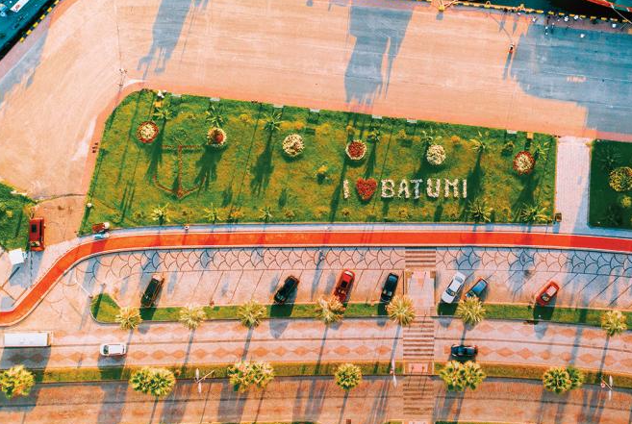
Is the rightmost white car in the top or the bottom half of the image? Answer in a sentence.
It is in the bottom half that the rightmost white car appears.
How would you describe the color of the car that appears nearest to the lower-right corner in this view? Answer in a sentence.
The car that appears nearest to the lower-right corner looks red in the image.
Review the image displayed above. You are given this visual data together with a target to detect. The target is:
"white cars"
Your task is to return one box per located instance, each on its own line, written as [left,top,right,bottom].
[441,272,466,305]
[98,342,126,357]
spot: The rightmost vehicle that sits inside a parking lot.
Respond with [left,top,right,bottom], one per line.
[536,277,559,307]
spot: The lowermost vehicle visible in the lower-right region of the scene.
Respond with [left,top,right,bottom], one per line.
[449,343,478,359]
